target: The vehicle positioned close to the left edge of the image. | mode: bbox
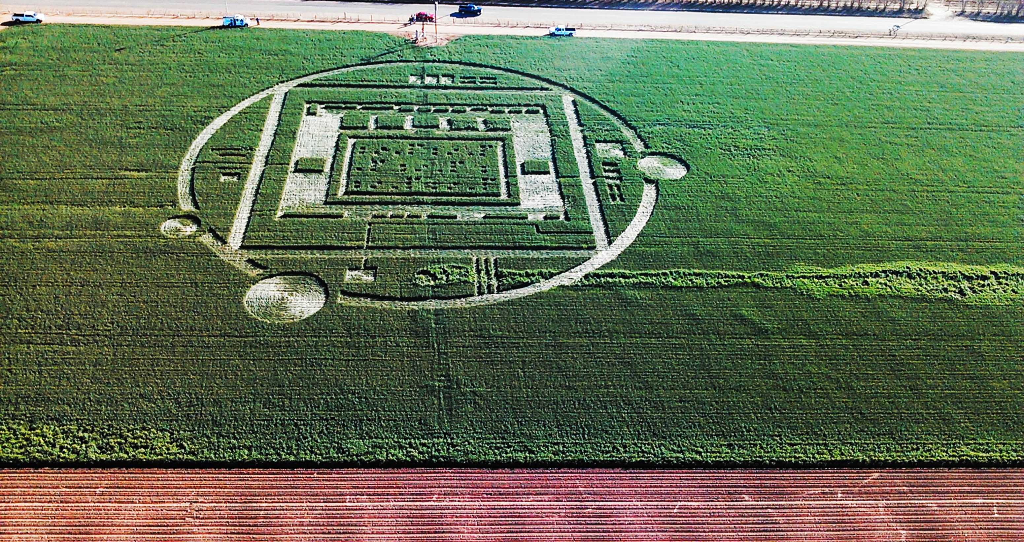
[12,12,43,24]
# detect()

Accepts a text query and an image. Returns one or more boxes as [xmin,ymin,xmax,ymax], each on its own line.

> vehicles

[415,11,435,20]
[12,12,43,24]
[458,3,483,14]
[222,12,252,26]
[550,25,576,36]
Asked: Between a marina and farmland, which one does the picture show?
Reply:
farmland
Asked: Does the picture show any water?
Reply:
No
